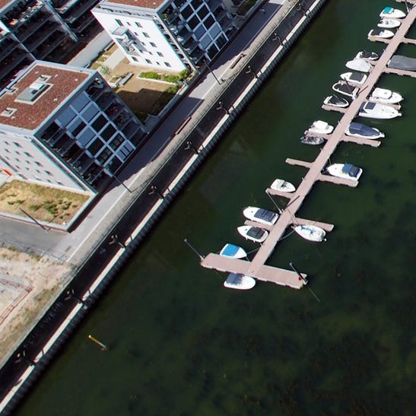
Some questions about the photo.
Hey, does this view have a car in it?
No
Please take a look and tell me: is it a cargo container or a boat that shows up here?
boat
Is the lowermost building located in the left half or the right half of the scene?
left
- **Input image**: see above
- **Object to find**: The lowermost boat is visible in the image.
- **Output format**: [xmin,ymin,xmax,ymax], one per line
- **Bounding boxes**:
[221,279,258,292]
